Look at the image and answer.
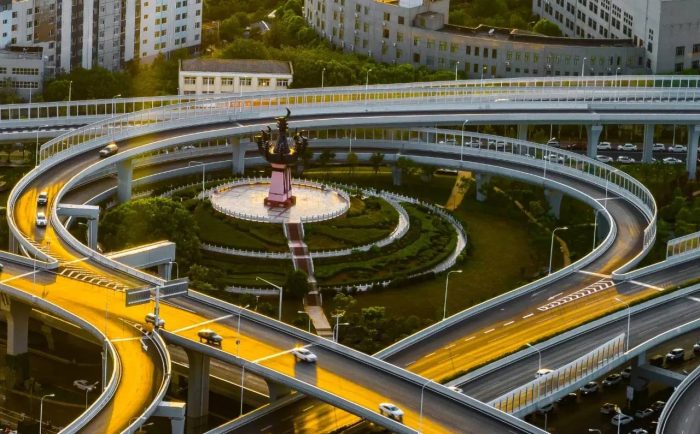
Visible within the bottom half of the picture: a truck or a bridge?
bridge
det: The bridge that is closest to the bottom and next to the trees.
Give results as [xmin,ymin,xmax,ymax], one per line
[0,252,554,434]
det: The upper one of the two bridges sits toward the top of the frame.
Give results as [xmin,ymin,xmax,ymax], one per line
[0,85,700,176]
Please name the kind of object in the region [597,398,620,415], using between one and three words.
car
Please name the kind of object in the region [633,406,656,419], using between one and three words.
vehicle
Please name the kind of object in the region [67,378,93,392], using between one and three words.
vehicle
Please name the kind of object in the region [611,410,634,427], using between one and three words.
car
